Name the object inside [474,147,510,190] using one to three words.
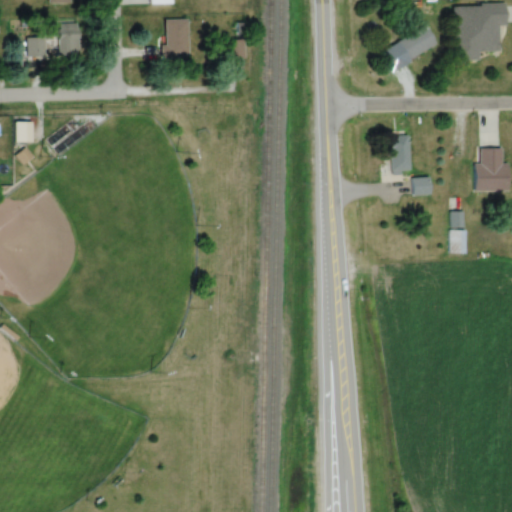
house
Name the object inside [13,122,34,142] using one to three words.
building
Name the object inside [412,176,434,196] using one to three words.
building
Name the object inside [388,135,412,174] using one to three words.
house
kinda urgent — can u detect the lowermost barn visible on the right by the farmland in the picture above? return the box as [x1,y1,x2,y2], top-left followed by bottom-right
[446,230,468,254]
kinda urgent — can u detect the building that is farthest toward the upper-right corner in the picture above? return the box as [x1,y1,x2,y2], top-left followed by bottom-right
[451,2,507,64]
